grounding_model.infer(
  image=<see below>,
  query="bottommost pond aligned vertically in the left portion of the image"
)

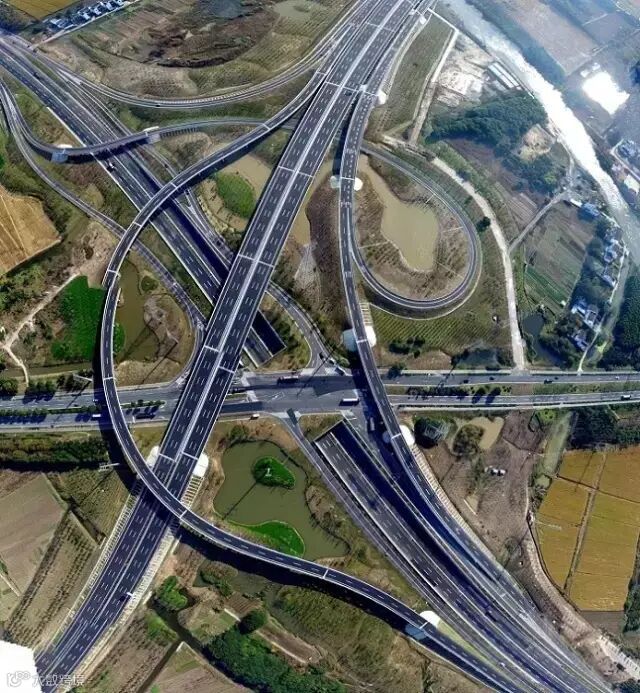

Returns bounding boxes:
[114,259,158,365]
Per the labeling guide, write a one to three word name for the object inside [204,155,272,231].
pond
